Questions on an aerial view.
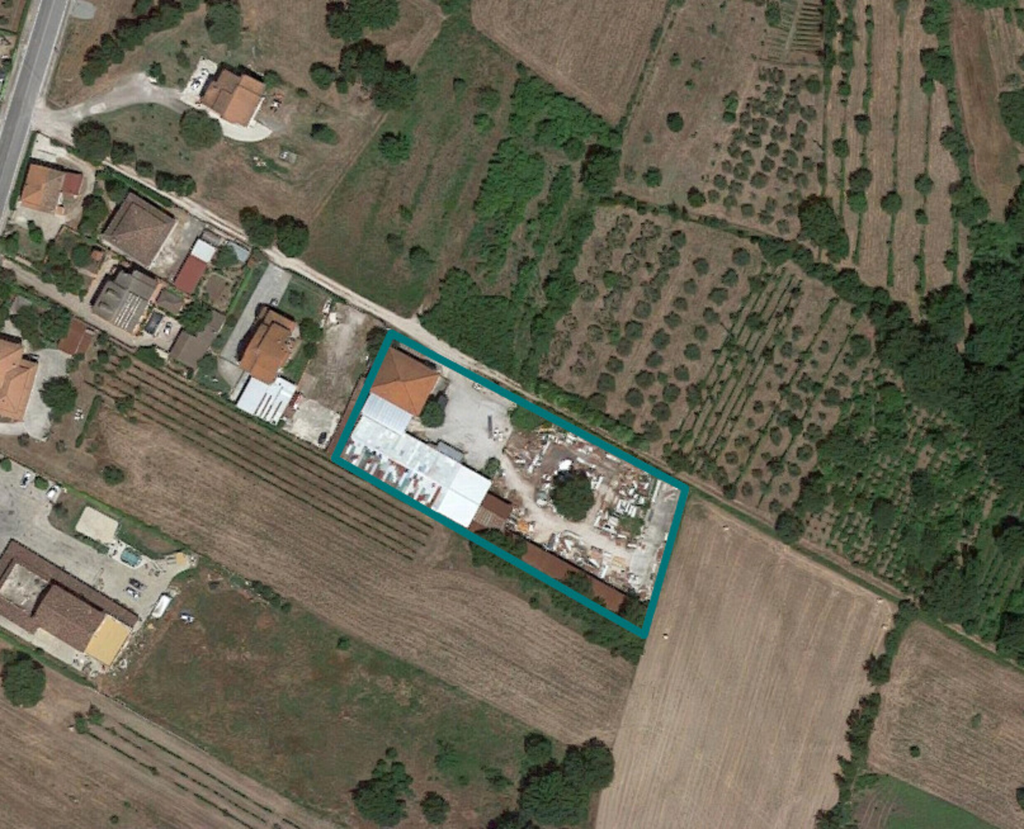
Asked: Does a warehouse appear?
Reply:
Yes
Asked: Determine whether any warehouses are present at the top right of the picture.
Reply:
No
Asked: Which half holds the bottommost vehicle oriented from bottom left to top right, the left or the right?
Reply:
left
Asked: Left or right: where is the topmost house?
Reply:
left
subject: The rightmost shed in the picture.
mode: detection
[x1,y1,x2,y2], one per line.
[521,542,625,613]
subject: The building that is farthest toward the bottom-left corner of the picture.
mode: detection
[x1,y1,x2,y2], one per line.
[0,539,138,667]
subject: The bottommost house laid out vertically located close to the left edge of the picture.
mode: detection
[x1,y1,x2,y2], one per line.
[0,339,36,421]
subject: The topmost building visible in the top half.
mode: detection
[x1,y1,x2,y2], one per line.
[200,67,267,130]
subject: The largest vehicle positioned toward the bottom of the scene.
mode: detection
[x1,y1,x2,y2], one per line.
[151,593,171,618]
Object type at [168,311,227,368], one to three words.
barn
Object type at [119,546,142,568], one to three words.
swimming pool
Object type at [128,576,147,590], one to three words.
car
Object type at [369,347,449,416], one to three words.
house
